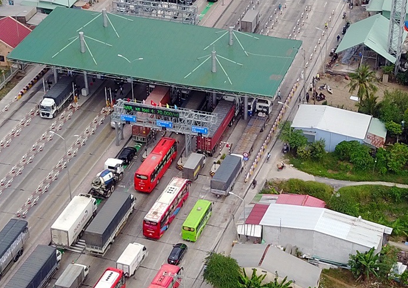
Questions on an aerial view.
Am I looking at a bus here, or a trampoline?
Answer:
bus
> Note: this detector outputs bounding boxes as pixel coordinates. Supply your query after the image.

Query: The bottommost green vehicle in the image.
[181,200,216,245]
